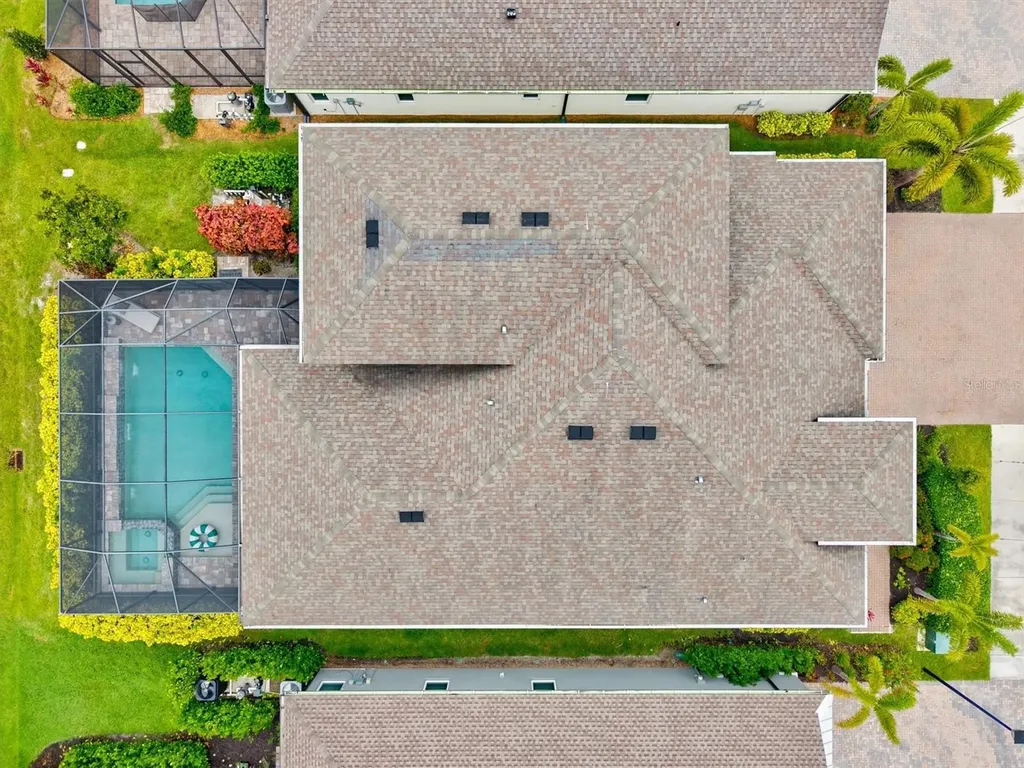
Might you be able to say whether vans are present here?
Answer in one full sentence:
No, the frame has no van in it.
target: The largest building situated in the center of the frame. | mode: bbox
[238,123,917,629]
